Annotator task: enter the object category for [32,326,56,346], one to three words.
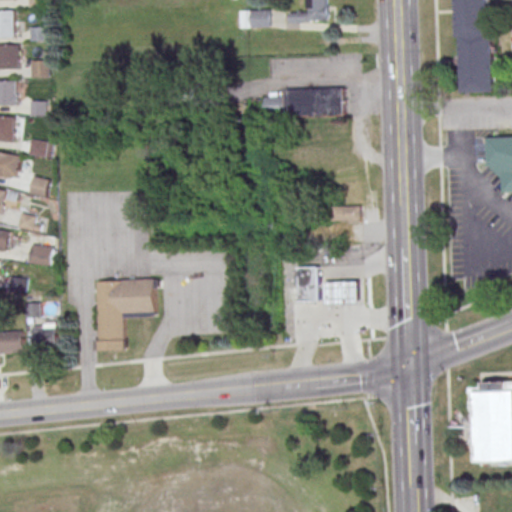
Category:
house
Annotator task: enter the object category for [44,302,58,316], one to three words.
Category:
swimming pool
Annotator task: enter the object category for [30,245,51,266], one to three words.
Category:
building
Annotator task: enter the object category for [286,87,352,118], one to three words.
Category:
building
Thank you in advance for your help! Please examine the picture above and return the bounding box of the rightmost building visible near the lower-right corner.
[472,382,512,464]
